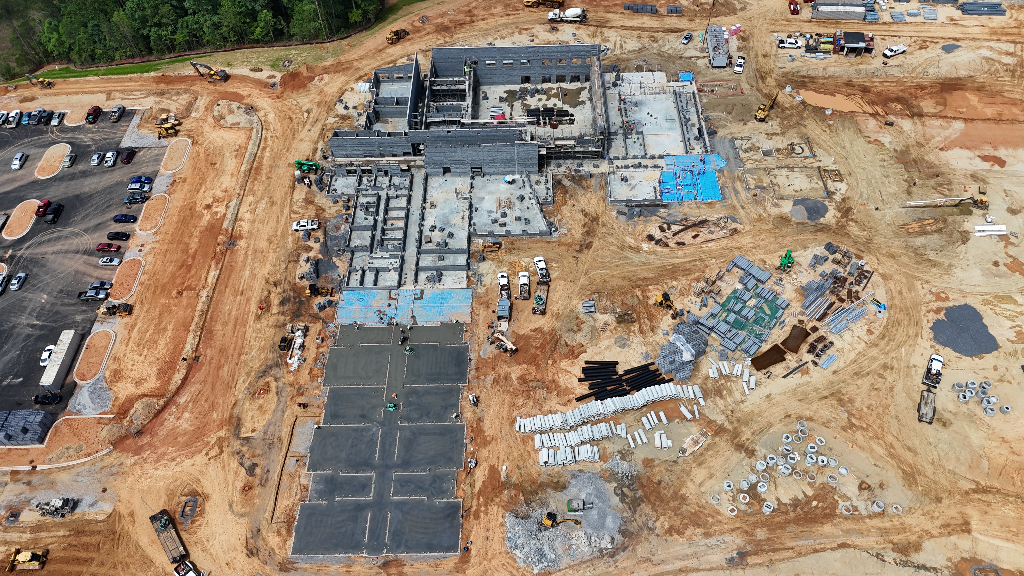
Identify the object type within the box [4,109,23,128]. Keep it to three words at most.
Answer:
vehicle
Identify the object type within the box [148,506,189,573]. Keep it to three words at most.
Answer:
trailer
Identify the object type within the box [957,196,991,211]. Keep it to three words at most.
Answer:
work vehicle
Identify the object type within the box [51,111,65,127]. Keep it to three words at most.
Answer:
car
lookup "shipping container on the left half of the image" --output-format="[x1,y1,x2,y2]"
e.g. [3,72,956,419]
[35,330,81,395]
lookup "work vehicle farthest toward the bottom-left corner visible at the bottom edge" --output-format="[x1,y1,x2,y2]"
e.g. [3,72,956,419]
[1,545,52,576]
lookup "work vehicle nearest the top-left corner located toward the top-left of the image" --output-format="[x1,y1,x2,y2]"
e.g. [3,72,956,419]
[23,77,58,93]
